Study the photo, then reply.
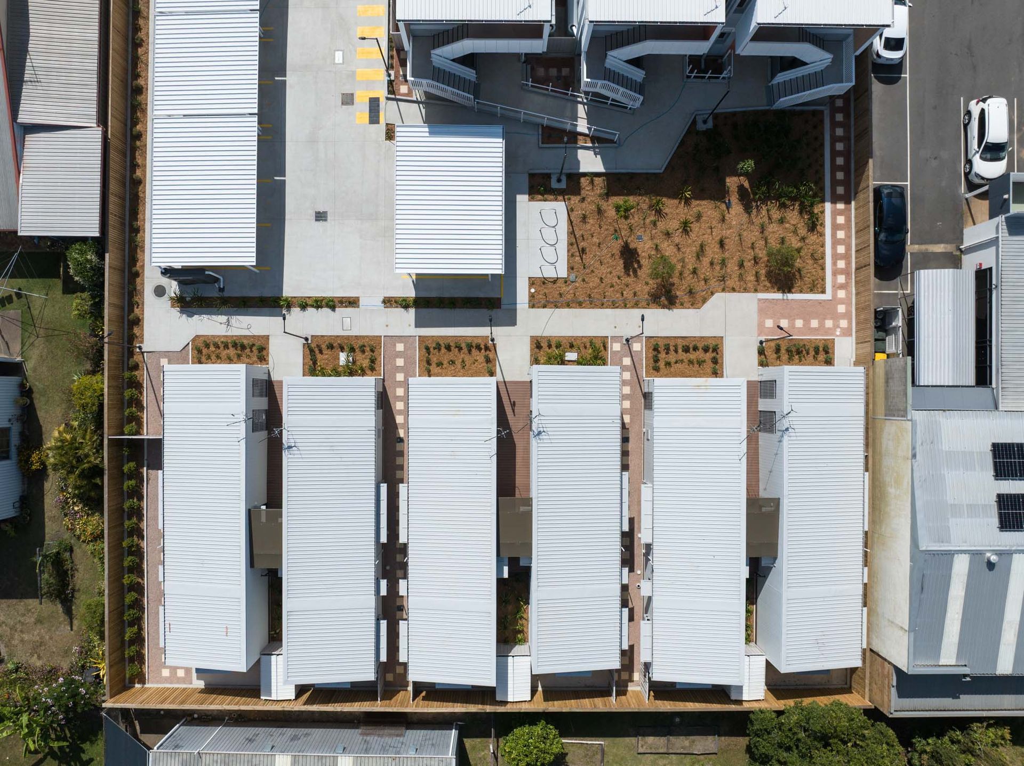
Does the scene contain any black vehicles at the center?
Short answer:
No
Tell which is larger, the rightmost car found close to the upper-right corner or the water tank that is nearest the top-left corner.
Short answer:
the car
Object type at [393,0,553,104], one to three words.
building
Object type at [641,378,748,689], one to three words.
house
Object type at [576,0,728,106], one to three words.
building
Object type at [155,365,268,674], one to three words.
house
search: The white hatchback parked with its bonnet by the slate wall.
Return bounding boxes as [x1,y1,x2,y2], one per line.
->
[964,94,1014,180]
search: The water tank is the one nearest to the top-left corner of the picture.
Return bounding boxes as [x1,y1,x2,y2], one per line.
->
[158,266,225,293]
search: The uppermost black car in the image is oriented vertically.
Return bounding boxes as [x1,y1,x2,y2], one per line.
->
[878,179,912,266]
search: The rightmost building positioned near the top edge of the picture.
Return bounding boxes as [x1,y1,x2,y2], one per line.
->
[723,0,897,108]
